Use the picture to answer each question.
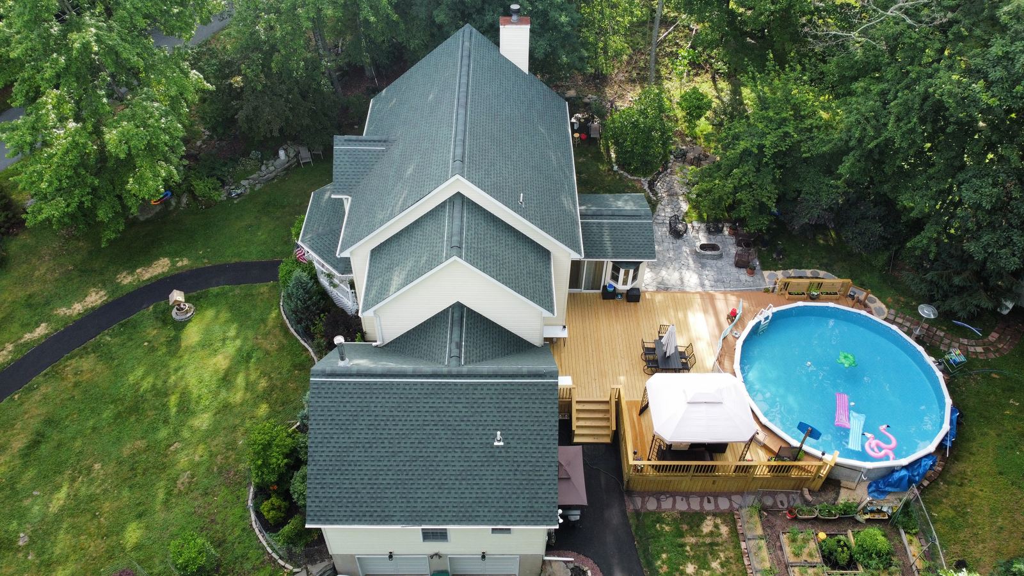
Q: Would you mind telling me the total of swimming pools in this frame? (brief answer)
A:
one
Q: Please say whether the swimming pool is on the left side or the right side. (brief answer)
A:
right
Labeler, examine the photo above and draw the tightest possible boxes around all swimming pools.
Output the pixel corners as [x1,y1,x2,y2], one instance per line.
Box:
[736,302,951,484]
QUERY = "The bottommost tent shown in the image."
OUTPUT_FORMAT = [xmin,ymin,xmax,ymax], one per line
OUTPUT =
[558,446,586,536]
